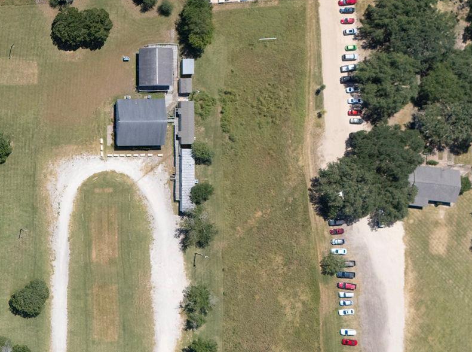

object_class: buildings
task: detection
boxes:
[178,102,194,145]
[114,99,168,145]
[136,47,173,86]
[180,59,194,74]
[179,148,195,212]
[177,78,191,93]
[407,169,462,205]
